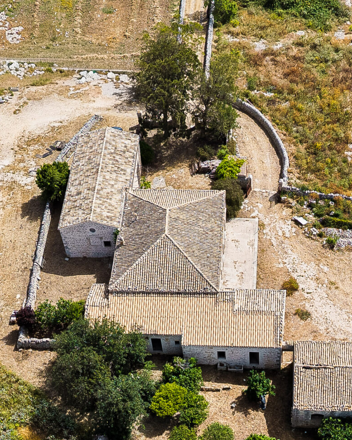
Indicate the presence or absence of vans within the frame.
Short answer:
No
